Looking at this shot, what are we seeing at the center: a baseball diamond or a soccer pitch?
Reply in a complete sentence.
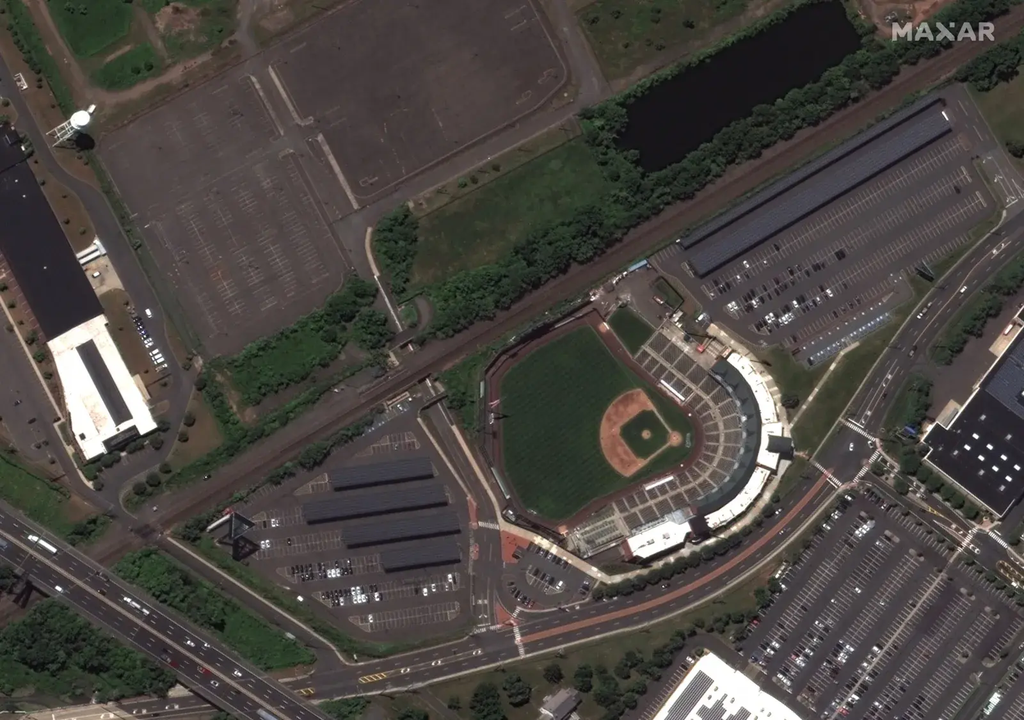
What appears at the center is a baseball diamond.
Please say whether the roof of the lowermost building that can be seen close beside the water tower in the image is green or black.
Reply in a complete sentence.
In this view, the roof of the lowermost building that can be seen close beside the water tower is black.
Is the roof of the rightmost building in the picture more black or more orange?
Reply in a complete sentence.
In this view, the roof of the rightmost building is black.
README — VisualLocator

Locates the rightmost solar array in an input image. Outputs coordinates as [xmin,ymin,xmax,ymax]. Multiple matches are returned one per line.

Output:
[986,344,1024,419]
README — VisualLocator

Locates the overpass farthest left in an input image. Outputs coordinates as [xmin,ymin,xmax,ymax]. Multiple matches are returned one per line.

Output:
[0,502,337,720]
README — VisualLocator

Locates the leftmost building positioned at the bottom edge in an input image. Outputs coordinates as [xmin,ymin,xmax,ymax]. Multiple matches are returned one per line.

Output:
[540,689,580,720]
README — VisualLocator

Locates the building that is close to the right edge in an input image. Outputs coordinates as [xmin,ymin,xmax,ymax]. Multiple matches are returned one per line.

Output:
[916,315,1024,520]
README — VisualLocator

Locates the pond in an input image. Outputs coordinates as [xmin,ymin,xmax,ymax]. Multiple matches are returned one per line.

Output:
[620,0,857,173]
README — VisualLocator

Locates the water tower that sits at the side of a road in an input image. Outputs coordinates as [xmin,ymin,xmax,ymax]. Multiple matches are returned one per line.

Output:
[46,106,86,147]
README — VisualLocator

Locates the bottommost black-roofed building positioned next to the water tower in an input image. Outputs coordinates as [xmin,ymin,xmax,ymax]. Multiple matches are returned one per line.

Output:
[0,129,103,345]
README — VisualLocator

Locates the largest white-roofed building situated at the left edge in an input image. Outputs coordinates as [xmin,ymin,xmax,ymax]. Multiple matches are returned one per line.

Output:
[43,313,158,464]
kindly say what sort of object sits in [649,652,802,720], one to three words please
building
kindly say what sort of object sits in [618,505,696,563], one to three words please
building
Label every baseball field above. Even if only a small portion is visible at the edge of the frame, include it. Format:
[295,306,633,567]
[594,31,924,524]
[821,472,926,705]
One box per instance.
[491,310,704,537]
